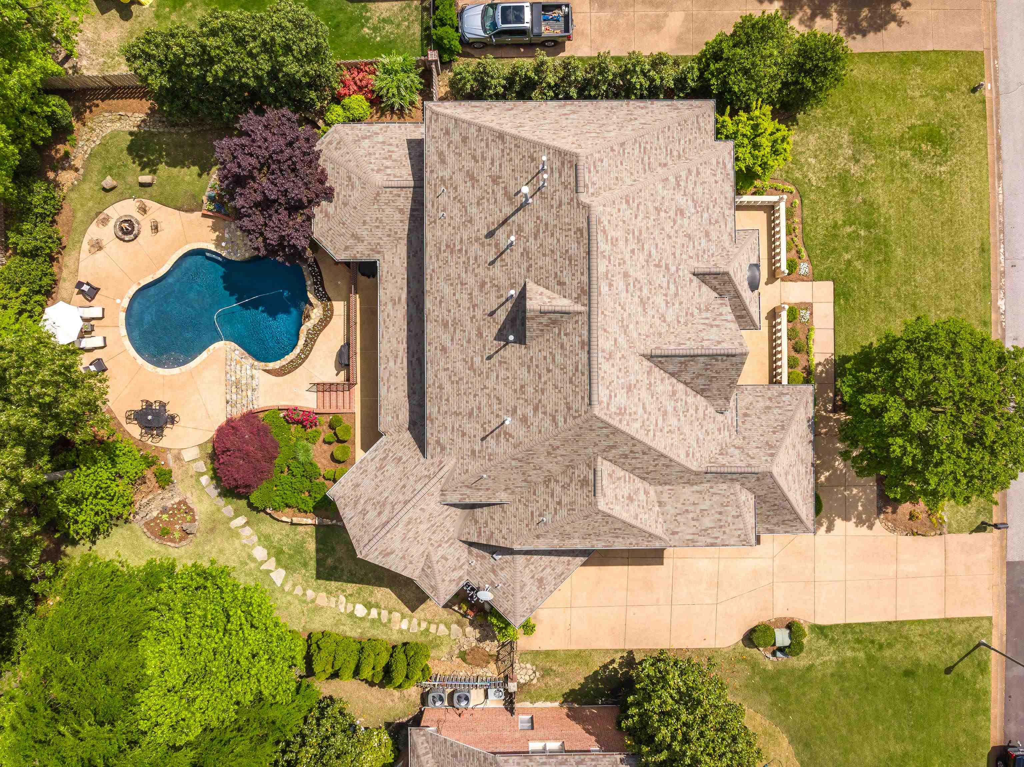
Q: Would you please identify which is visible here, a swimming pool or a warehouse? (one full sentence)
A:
It is a swimming pool that can be seen here.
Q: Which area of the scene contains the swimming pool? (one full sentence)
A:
The swimming pool is in the left part of the image.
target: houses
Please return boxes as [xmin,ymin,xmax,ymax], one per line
[310,97,817,630]
[407,706,694,767]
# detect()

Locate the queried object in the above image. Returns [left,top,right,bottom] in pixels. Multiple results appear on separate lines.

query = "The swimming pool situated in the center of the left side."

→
[112,238,323,376]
